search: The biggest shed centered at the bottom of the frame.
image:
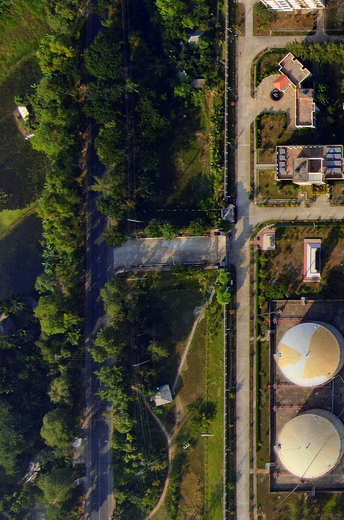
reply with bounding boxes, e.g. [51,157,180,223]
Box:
[155,385,174,406]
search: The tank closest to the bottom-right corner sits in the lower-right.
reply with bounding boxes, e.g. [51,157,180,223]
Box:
[276,409,344,479]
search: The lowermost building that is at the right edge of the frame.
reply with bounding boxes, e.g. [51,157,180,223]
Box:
[276,146,344,184]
